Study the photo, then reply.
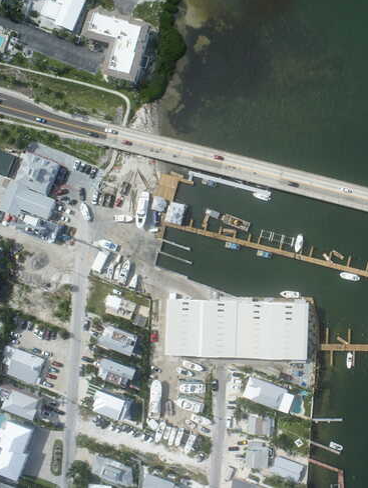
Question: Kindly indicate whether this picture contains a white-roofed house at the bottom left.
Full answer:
Yes, a white-roofed house is visible at the bottom left.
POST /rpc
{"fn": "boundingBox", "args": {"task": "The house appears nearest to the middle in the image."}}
[165,202,186,225]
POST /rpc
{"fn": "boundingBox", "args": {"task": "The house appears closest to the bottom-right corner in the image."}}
[272,454,306,482]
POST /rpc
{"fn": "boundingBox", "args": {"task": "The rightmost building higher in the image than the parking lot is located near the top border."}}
[81,5,156,85]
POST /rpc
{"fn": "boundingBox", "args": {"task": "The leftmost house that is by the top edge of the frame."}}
[41,0,88,32]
